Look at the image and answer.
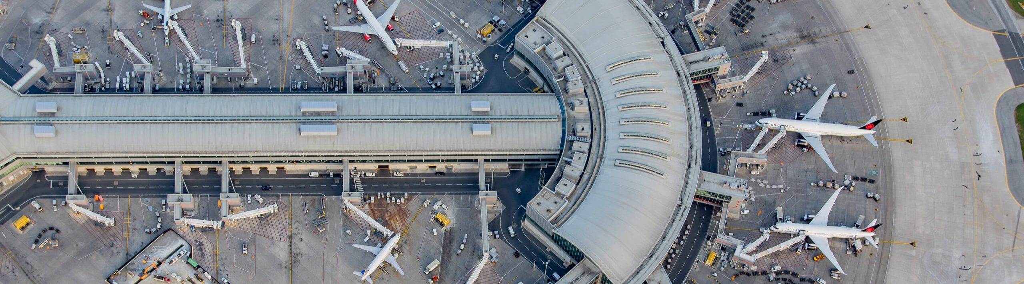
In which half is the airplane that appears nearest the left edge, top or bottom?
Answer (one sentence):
The airplane that appears nearest the left edge is in the top half of the image.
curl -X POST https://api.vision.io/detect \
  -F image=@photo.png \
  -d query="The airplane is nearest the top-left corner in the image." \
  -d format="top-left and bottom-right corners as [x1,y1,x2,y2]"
[142,0,191,35]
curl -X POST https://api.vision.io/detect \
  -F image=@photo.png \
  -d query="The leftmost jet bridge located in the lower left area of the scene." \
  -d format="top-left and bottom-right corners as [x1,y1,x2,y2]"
[67,203,118,228]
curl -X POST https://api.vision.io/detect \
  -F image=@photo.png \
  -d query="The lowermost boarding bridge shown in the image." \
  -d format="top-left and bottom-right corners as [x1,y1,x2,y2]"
[463,254,491,284]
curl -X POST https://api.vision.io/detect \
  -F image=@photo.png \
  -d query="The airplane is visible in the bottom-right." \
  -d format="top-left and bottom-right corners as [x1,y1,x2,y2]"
[770,186,882,277]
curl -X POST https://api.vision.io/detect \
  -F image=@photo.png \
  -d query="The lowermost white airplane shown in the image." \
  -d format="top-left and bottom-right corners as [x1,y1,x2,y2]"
[353,234,404,284]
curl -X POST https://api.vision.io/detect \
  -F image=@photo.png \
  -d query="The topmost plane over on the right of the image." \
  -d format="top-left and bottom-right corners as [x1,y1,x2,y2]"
[755,85,881,173]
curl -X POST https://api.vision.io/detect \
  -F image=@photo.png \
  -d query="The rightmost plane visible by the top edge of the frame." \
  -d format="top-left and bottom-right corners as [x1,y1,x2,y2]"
[333,0,402,55]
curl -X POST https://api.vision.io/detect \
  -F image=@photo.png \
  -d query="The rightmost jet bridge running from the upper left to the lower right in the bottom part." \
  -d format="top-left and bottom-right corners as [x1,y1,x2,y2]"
[343,200,396,239]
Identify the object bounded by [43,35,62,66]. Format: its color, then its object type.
white jet bridge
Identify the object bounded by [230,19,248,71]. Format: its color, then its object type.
white jet bridge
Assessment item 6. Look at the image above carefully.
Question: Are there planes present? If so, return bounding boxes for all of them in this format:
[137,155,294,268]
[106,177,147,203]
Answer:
[142,0,191,35]
[755,85,881,173]
[333,0,402,55]
[770,186,882,277]
[353,234,404,284]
